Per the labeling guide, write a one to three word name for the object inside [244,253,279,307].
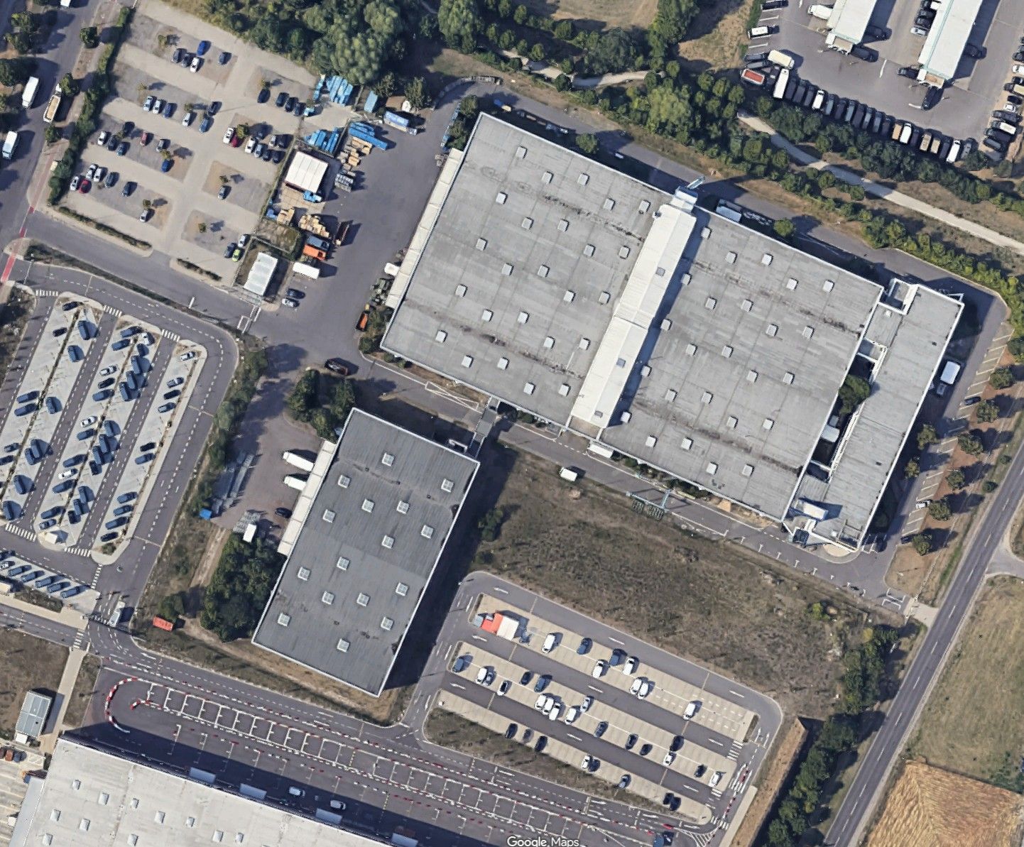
building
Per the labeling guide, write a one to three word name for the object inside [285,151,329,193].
shed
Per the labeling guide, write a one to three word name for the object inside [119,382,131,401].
vehicle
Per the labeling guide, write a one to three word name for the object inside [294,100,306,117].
vehicle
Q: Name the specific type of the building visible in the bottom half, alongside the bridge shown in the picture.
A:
warehouse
